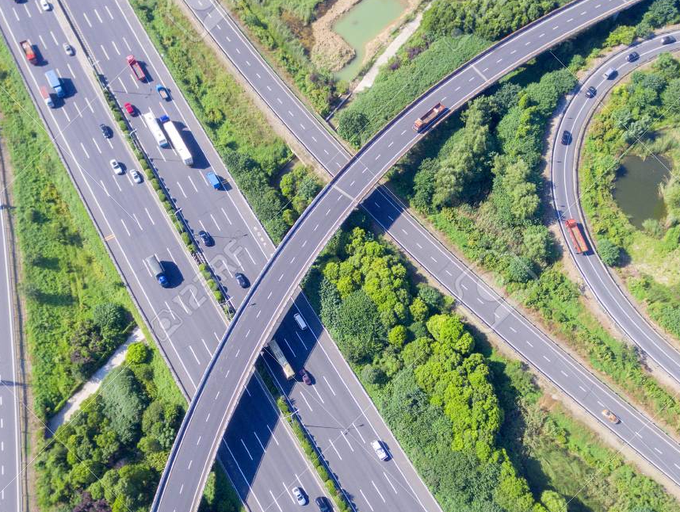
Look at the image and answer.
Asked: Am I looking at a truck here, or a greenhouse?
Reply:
truck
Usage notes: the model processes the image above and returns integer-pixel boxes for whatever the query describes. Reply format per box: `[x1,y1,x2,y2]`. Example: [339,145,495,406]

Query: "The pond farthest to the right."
[332,0,411,79]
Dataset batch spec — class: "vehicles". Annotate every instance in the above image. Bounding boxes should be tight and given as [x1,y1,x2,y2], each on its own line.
[126,53,147,82]
[110,159,122,174]
[207,171,221,188]
[39,0,50,11]
[143,111,171,152]
[18,37,37,64]
[160,115,197,169]
[235,272,248,289]
[372,441,388,462]
[43,64,67,99]
[100,123,112,138]
[316,494,333,512]
[585,86,598,99]
[268,333,299,381]
[155,81,171,102]
[199,230,212,246]
[563,214,589,258]
[561,130,571,145]
[293,313,309,332]
[124,102,136,116]
[130,168,142,183]
[39,86,55,108]
[298,366,313,385]
[63,42,73,55]
[660,35,677,45]
[292,485,308,506]
[625,52,640,62]
[600,407,620,425]
[603,68,617,80]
